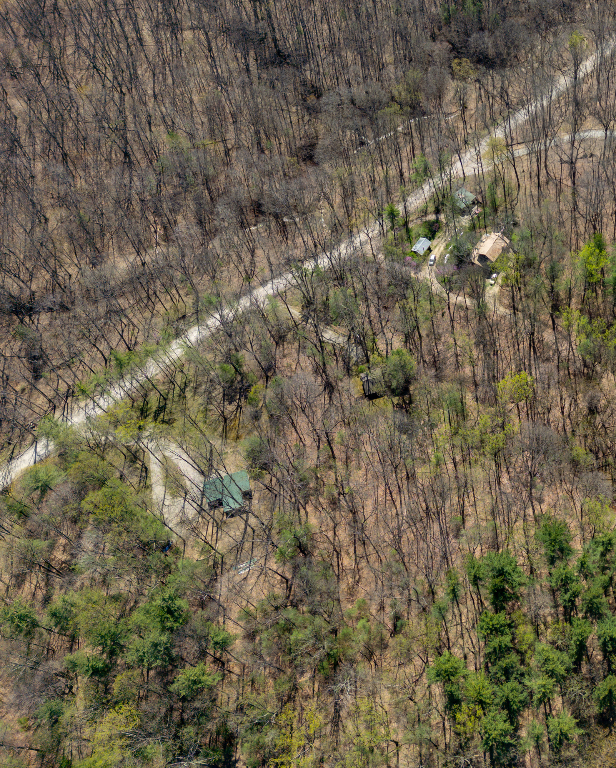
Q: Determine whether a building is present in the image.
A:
Yes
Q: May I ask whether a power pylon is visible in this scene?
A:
No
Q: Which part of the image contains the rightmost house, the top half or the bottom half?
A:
top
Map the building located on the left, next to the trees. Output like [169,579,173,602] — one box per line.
[204,469,253,514]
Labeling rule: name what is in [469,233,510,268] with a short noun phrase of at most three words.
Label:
house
